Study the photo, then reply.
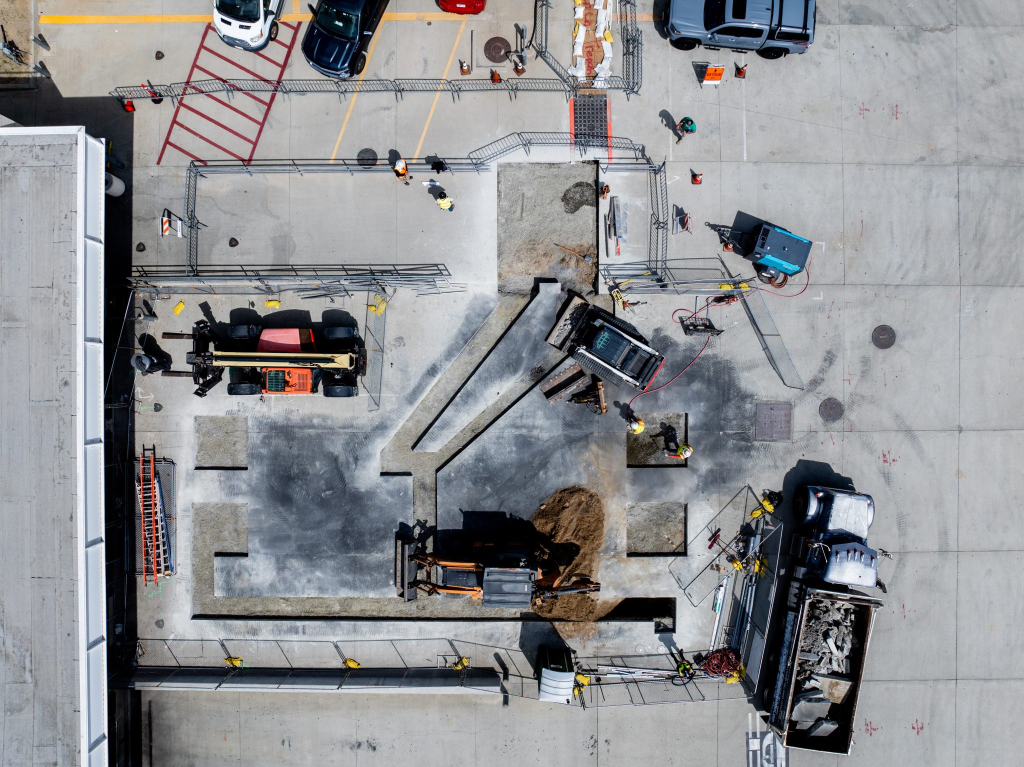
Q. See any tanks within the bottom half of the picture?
No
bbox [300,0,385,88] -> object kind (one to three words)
truck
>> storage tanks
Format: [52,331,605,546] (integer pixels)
[107,166,136,198]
